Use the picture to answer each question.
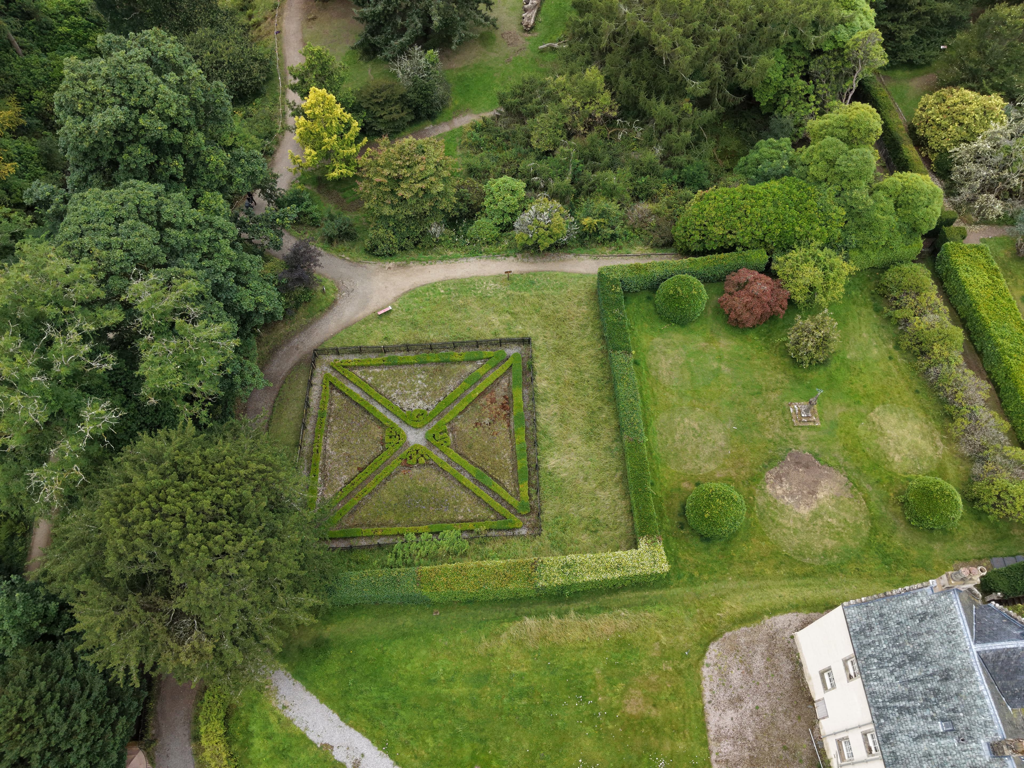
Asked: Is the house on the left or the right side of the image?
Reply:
right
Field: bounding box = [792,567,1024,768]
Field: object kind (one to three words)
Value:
house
